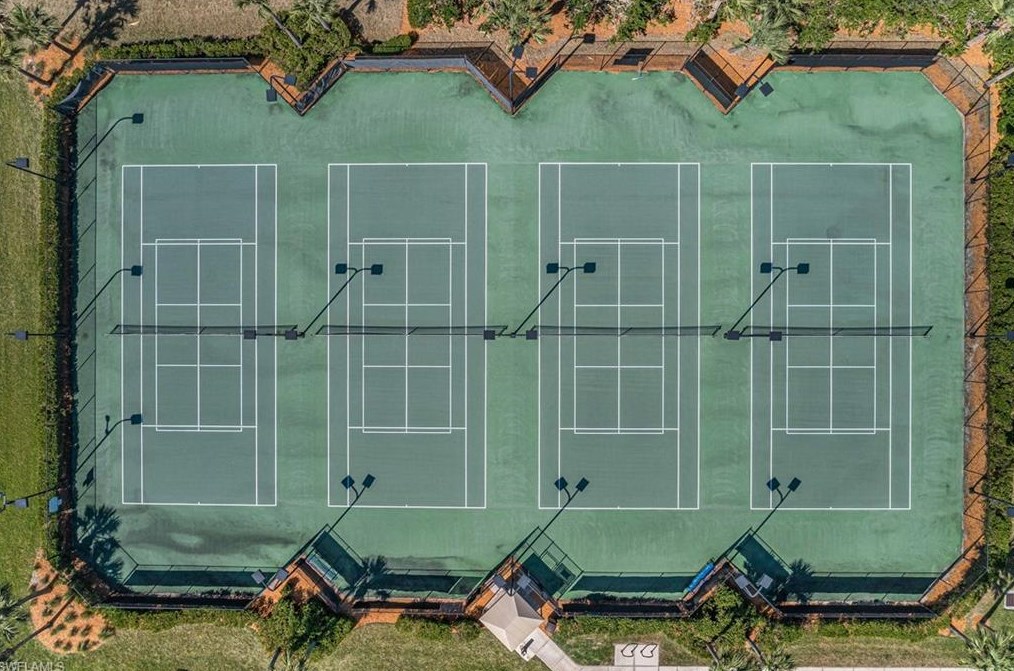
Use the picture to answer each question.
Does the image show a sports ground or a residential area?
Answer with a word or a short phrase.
sports ground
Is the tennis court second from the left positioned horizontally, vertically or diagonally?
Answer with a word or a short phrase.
vertically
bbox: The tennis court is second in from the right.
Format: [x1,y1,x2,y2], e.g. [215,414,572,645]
[539,162,700,510]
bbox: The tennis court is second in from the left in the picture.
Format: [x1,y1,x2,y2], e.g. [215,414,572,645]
[328,162,487,509]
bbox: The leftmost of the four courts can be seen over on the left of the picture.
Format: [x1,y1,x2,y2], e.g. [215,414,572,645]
[122,163,277,506]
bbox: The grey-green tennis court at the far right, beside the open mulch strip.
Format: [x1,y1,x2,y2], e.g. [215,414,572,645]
[751,163,912,511]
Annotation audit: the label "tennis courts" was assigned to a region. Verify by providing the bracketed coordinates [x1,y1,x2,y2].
[539,162,700,510]
[122,163,277,506]
[751,163,912,511]
[328,162,487,509]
